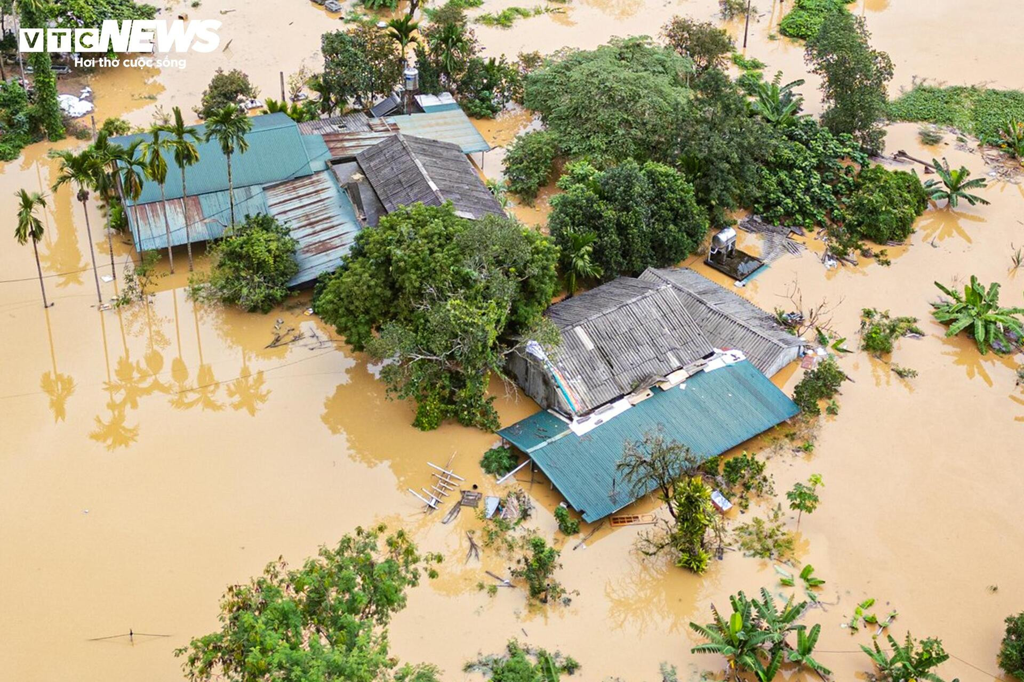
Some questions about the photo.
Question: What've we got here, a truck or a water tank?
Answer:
water tank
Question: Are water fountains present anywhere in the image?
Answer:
No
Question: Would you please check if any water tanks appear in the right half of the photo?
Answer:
Yes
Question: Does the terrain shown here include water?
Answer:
Yes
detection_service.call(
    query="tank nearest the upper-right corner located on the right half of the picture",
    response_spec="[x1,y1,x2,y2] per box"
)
[707,222,743,259]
